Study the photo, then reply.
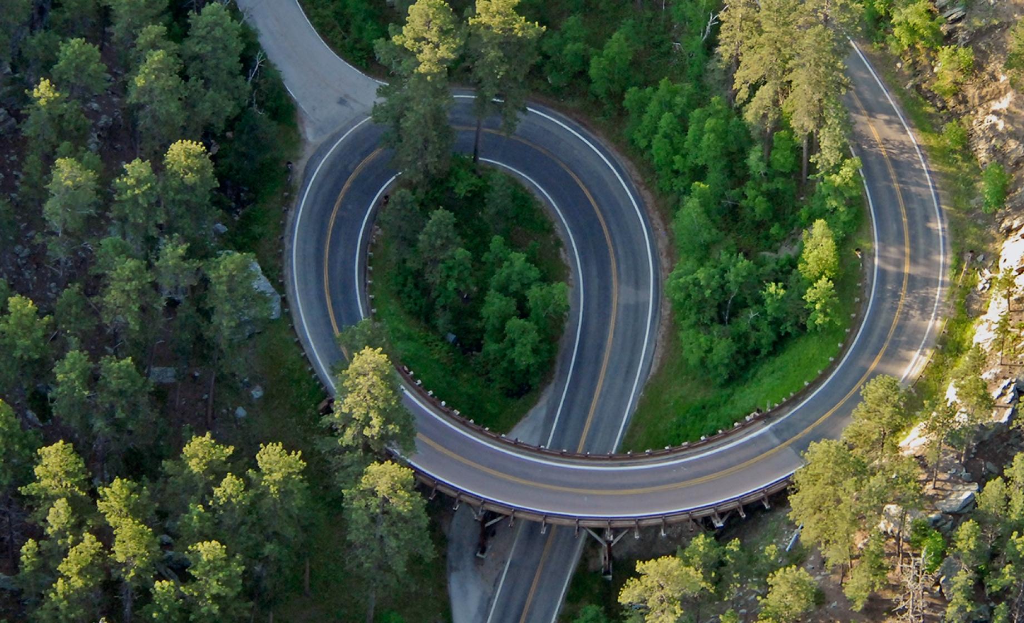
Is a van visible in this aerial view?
No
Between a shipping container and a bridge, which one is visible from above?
bridge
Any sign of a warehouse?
No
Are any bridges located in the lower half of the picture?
Yes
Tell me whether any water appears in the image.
No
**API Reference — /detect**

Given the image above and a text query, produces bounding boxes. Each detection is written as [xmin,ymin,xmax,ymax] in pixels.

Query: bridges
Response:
[371,384,812,575]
